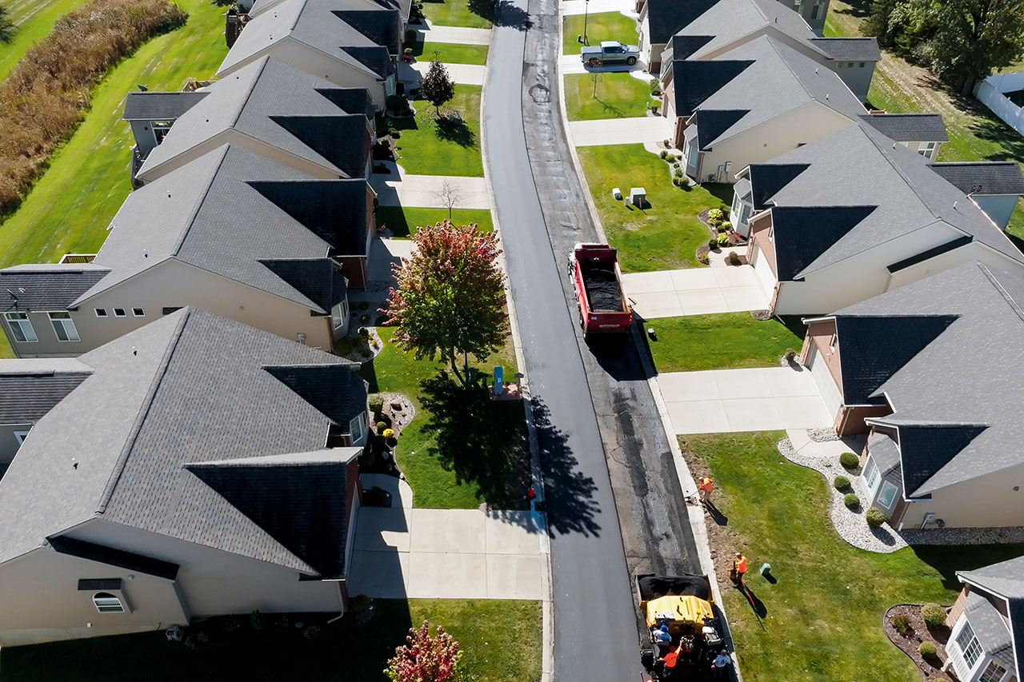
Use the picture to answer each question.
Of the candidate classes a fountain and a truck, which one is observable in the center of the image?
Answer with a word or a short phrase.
truck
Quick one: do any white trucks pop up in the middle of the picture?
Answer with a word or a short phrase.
No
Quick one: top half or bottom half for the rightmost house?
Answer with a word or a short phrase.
bottom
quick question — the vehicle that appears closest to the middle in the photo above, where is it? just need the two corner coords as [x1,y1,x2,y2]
[566,237,637,344]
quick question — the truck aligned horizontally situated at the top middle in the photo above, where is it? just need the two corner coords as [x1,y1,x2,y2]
[581,41,642,64]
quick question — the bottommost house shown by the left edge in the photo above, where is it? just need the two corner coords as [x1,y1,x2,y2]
[0,306,375,654]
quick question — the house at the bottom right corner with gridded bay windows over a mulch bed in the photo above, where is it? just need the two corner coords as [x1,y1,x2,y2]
[936,555,1024,682]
